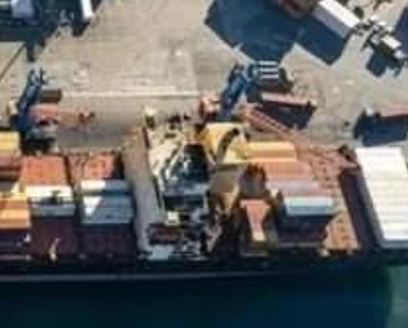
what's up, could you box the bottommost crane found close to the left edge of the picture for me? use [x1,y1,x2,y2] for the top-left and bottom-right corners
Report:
[12,69,52,157]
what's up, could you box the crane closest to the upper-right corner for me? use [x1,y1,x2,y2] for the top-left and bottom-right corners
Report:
[186,66,265,138]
